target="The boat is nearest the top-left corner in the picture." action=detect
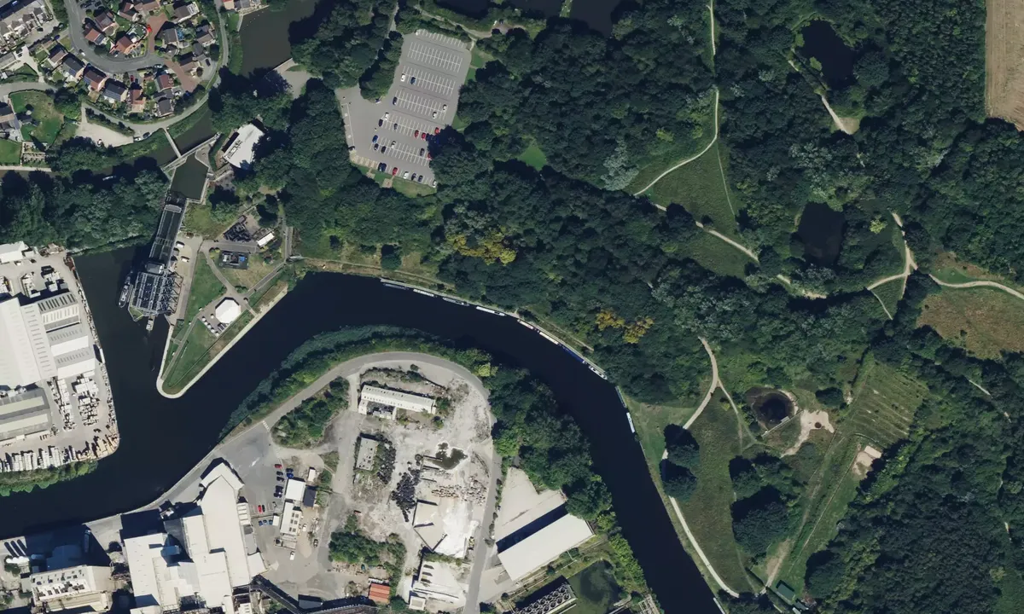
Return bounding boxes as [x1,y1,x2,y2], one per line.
[120,270,133,306]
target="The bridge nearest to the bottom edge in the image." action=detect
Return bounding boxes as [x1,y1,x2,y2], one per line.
[148,205,185,267]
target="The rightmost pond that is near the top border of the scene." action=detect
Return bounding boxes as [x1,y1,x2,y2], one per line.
[801,20,854,88]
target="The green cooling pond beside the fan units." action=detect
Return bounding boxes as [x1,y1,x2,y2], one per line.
[563,560,623,614]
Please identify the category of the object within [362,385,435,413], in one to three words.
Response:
shed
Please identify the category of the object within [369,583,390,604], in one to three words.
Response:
shed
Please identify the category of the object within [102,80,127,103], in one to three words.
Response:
house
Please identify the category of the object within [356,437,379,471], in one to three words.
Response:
building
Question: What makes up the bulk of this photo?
trees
